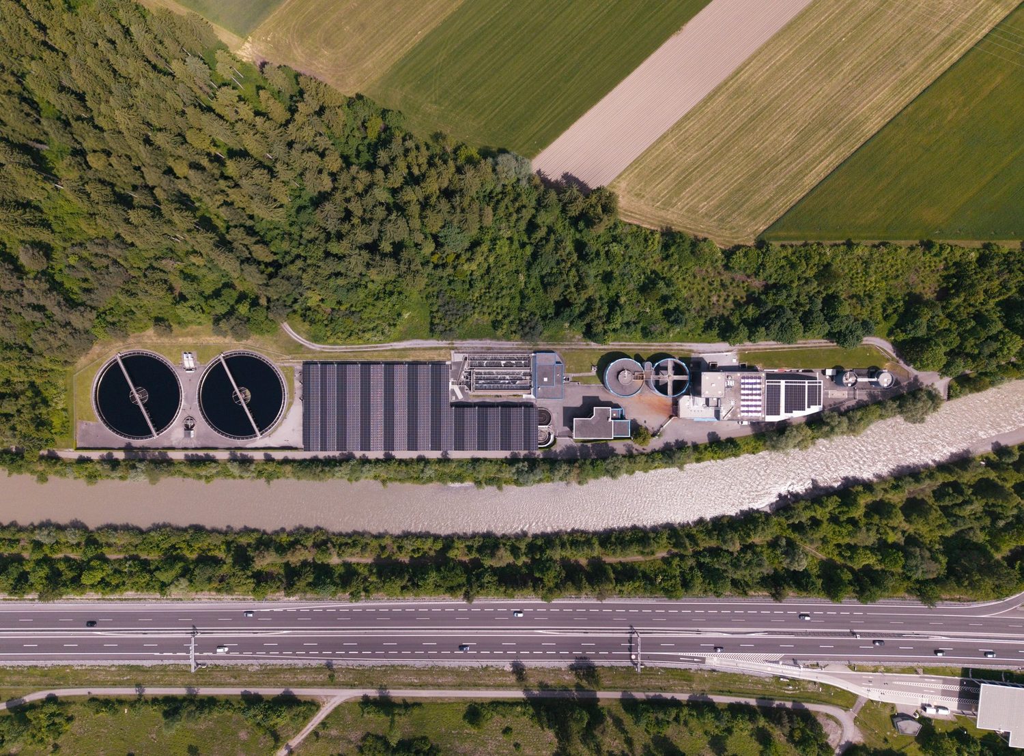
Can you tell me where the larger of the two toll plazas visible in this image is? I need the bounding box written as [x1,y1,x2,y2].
[825,672,943,695]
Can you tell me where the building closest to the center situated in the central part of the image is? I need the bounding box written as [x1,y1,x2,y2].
[532,353,563,398]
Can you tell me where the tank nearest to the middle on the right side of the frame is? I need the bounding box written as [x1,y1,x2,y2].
[603,358,645,397]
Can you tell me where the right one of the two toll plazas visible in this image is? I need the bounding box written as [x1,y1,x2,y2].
[936,678,983,699]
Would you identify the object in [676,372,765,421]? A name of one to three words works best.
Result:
building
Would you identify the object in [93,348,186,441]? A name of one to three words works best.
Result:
storage tank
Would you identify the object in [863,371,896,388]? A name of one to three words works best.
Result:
silo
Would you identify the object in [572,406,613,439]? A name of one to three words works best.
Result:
building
